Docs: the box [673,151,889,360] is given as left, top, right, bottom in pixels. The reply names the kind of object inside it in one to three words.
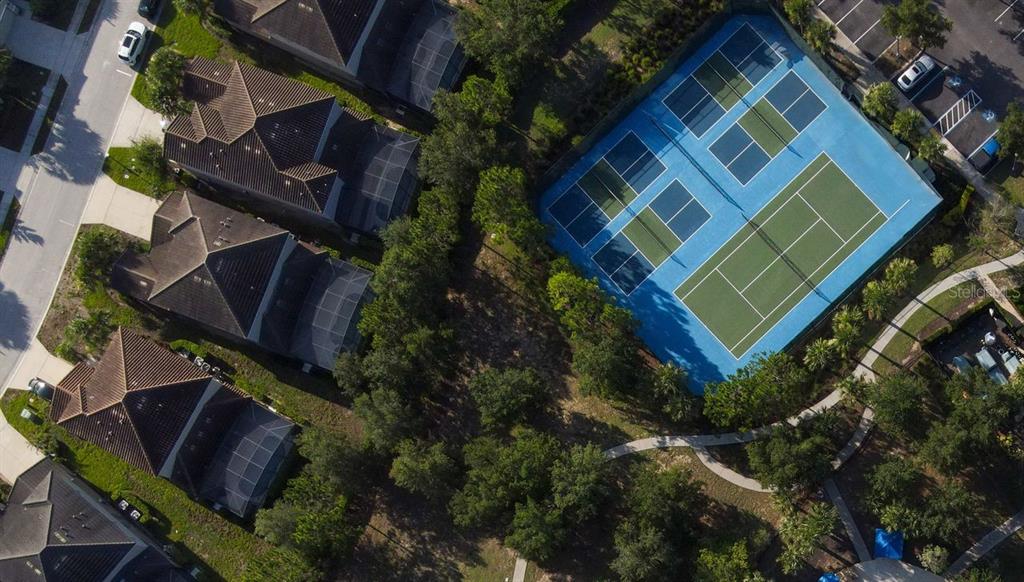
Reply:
tennis court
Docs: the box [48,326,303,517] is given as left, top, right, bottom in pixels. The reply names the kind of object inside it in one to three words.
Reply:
house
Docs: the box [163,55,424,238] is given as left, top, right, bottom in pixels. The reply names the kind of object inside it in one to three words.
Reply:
house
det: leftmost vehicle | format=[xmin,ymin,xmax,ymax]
[27,381,55,404]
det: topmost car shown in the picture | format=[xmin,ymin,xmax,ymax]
[137,0,163,21]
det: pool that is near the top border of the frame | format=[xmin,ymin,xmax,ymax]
[386,0,476,125]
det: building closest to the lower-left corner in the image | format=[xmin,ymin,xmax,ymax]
[0,457,205,582]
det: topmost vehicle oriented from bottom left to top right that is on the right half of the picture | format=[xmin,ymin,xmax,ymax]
[895,55,935,94]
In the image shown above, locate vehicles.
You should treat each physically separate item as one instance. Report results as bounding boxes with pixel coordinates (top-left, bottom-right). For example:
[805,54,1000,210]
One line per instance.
[137,0,163,21]
[971,129,1013,171]
[117,21,148,67]
[895,55,935,94]
[27,381,55,404]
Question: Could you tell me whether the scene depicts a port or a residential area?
residential area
